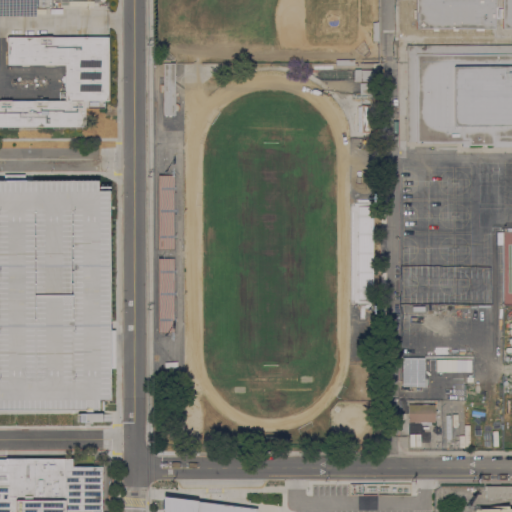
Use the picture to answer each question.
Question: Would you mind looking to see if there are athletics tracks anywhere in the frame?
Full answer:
Yes, you can see an athletics track in this photo.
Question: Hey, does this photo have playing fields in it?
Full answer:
Yes, the frame does contain a playing field.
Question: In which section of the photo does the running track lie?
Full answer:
The running track is located in the center region of the scene.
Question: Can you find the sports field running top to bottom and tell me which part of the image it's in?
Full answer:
The sports field running top to bottom appears toward the center of the photo.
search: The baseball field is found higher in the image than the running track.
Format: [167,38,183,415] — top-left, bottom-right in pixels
[157,0,371,56]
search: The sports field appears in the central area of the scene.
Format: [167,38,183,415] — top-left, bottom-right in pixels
[204,90,336,416]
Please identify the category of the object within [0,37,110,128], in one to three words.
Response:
building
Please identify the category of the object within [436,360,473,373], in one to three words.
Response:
shed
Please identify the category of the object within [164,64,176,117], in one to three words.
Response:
building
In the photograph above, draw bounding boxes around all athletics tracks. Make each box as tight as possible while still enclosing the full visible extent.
[186,70,351,431]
